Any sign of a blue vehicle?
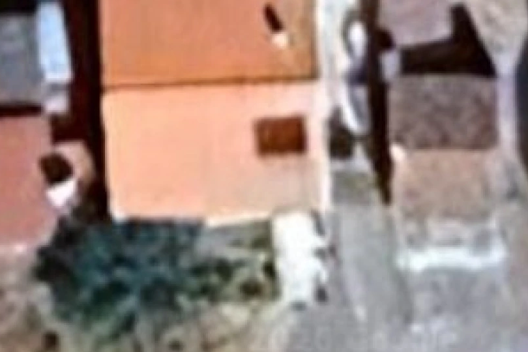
No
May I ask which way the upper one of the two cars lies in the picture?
vertically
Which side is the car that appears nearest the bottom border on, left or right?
right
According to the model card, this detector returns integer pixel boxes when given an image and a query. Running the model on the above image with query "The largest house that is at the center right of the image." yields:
[390,73,499,226]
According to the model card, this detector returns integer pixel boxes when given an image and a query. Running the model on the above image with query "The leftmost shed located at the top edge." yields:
[0,13,44,107]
